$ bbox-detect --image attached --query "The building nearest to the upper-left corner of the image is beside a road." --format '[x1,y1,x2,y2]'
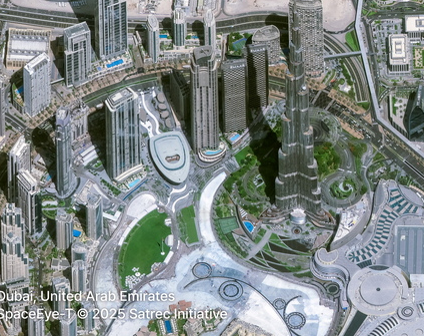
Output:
[8,27,51,70]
